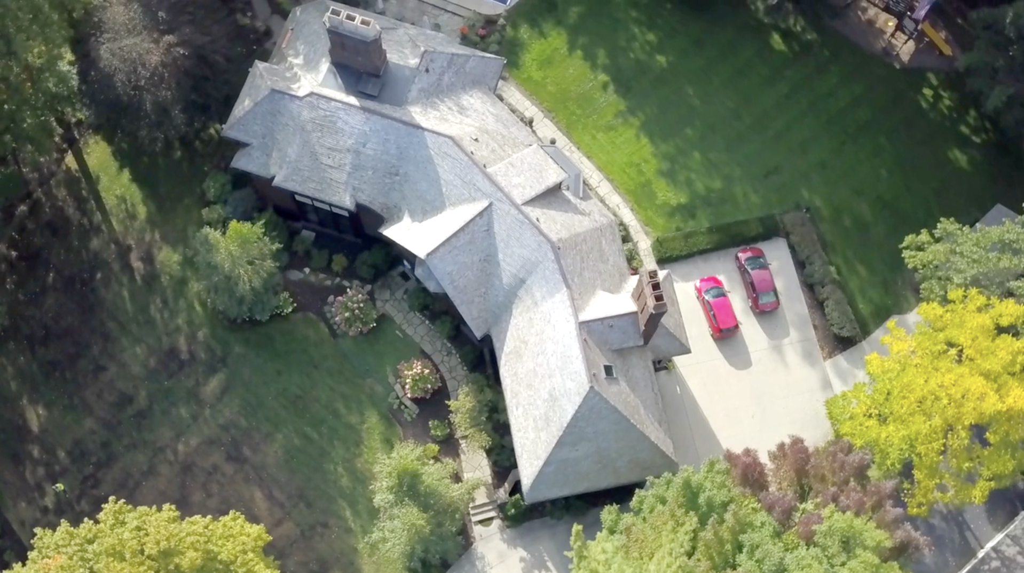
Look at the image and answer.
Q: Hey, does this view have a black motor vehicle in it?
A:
No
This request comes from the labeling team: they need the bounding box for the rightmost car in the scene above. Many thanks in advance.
[737,248,780,312]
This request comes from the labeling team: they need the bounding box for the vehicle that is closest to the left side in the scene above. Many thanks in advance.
[696,276,739,337]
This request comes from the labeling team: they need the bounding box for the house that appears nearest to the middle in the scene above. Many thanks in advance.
[221,0,691,505]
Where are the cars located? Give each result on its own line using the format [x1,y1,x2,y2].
[696,276,739,337]
[737,248,780,312]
